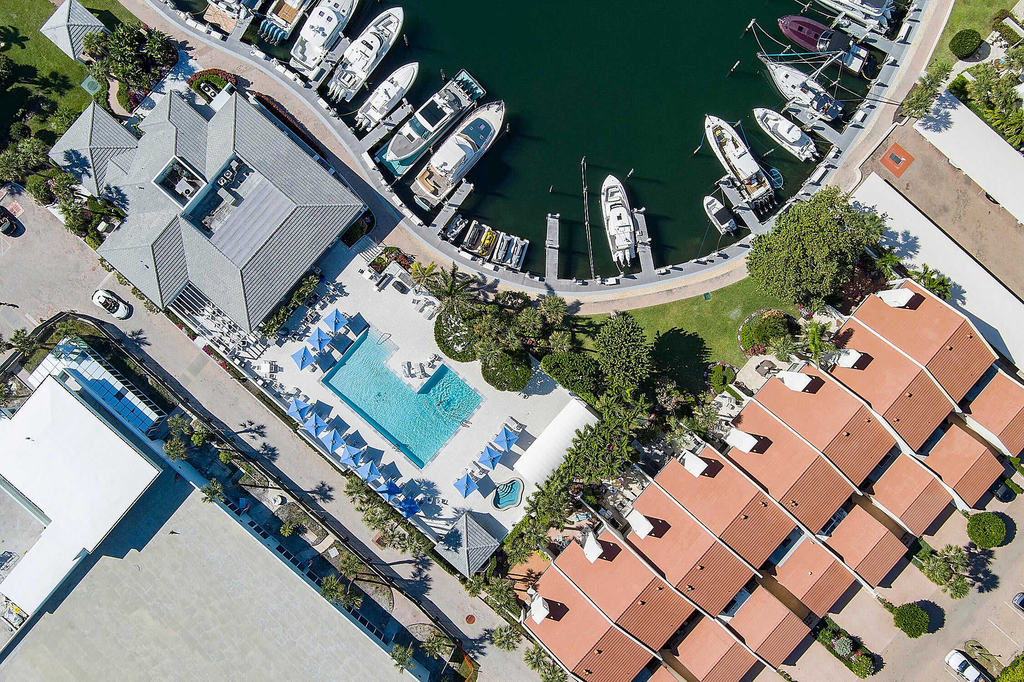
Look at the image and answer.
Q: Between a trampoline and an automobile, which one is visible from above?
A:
automobile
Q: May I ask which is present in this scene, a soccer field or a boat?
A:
boat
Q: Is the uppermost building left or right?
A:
left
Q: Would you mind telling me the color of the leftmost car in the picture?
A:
black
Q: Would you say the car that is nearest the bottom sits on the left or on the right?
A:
right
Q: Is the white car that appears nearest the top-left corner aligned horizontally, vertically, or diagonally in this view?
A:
diagonally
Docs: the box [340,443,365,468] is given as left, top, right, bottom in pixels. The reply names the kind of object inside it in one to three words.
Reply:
umbrella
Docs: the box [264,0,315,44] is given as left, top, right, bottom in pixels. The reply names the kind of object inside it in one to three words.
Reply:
boat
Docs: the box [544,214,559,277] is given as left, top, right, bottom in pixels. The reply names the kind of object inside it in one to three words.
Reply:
pier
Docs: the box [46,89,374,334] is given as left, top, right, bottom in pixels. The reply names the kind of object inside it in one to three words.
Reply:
building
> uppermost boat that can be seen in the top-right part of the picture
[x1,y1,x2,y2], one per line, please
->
[819,0,899,36]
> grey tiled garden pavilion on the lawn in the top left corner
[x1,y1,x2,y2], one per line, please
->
[38,0,115,63]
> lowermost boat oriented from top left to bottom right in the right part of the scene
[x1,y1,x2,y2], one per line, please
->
[705,196,735,236]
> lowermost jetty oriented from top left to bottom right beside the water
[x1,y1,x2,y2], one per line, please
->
[717,179,762,232]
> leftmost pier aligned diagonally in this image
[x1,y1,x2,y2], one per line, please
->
[227,0,264,42]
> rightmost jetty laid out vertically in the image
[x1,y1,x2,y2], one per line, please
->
[633,214,654,271]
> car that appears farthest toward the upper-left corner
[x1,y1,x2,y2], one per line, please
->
[0,201,22,241]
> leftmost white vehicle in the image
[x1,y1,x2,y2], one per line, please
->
[93,285,135,323]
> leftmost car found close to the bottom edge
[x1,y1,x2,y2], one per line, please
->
[941,648,986,682]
